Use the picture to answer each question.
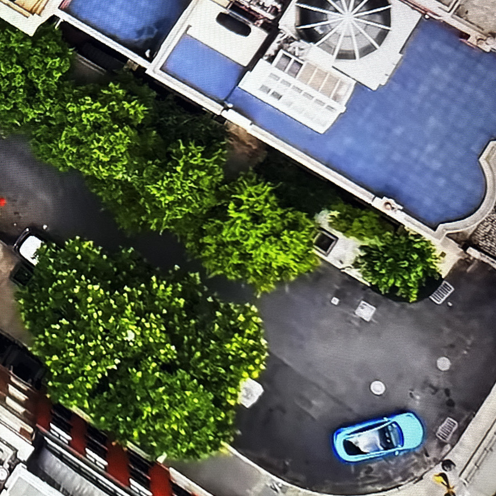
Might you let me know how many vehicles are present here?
2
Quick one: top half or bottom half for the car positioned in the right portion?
bottom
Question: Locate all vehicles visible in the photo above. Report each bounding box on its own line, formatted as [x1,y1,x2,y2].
[5,223,74,289]
[333,414,429,466]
